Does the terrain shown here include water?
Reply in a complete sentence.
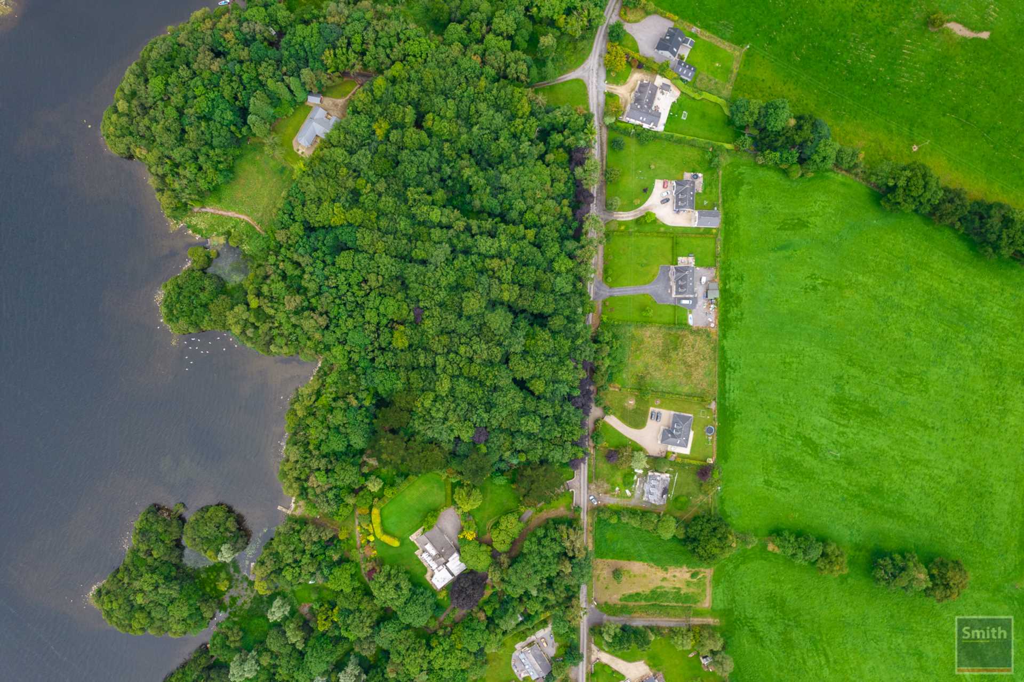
Yes, the picture does contain water.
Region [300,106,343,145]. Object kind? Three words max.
house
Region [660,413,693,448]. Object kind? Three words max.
house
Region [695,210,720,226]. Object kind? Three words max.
building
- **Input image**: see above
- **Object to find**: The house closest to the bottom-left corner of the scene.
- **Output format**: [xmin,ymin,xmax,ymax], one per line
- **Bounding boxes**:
[416,524,467,590]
